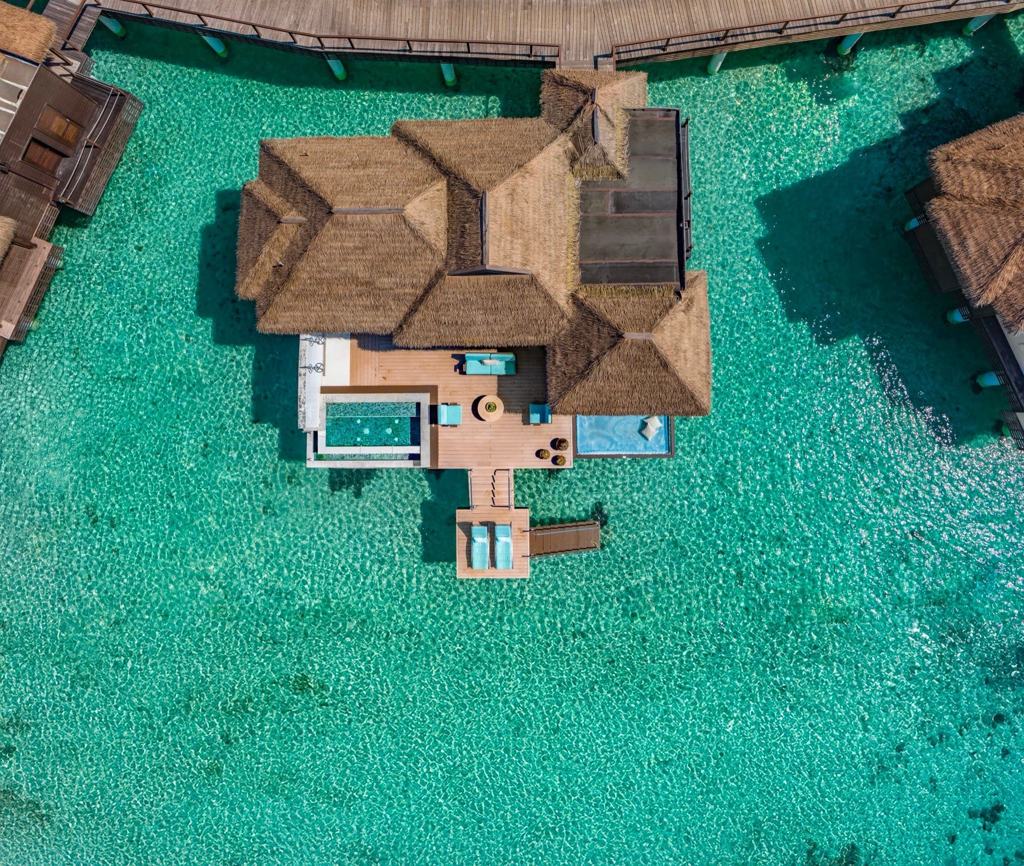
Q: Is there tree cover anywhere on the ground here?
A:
No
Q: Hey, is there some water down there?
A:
Yes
